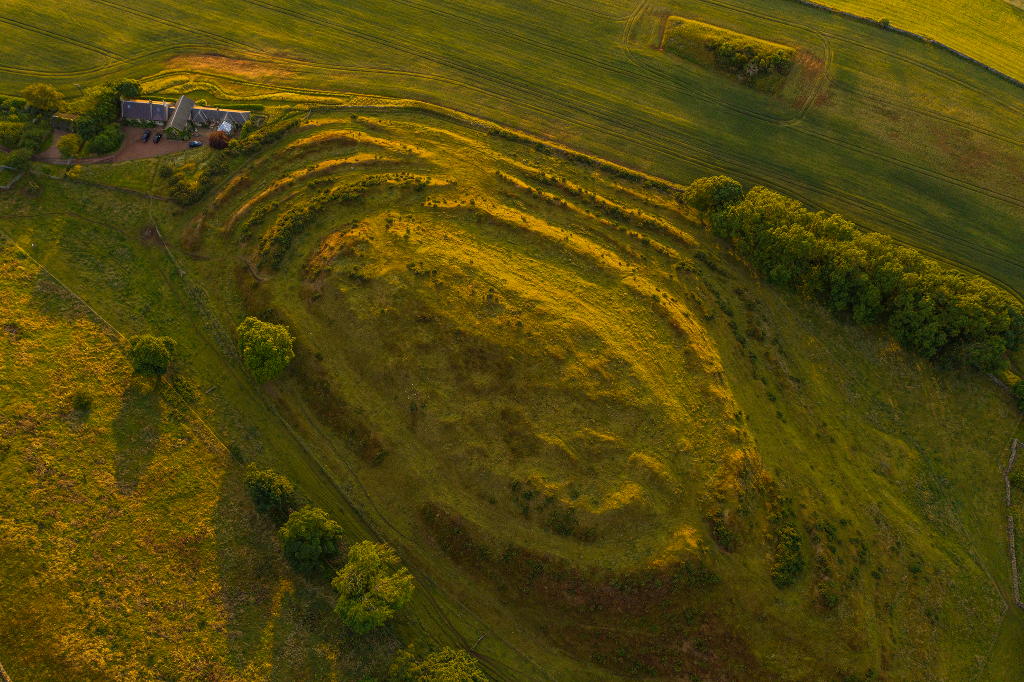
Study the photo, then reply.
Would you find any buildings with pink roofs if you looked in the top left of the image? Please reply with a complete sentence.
No, no building with a pink roof appears in the top left of the image.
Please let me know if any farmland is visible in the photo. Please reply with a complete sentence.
Yes, farmland shows up in the scene.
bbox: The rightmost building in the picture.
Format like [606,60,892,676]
[121,93,254,138]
